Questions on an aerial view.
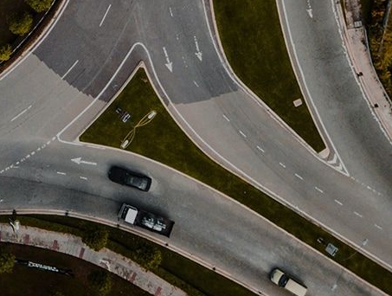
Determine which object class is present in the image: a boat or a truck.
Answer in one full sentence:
It is a truck that can be seen here.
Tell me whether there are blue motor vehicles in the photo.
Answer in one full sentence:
No, I find no blue motor vehicle anywhere in the image.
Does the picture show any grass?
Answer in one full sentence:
Yes, there is grass in the image.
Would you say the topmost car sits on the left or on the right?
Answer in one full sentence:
It is on the left.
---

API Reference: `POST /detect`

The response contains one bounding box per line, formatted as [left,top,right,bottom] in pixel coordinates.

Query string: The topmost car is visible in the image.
[106,166,153,192]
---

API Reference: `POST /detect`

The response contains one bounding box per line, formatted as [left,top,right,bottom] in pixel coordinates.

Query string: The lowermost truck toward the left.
[117,204,172,238]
